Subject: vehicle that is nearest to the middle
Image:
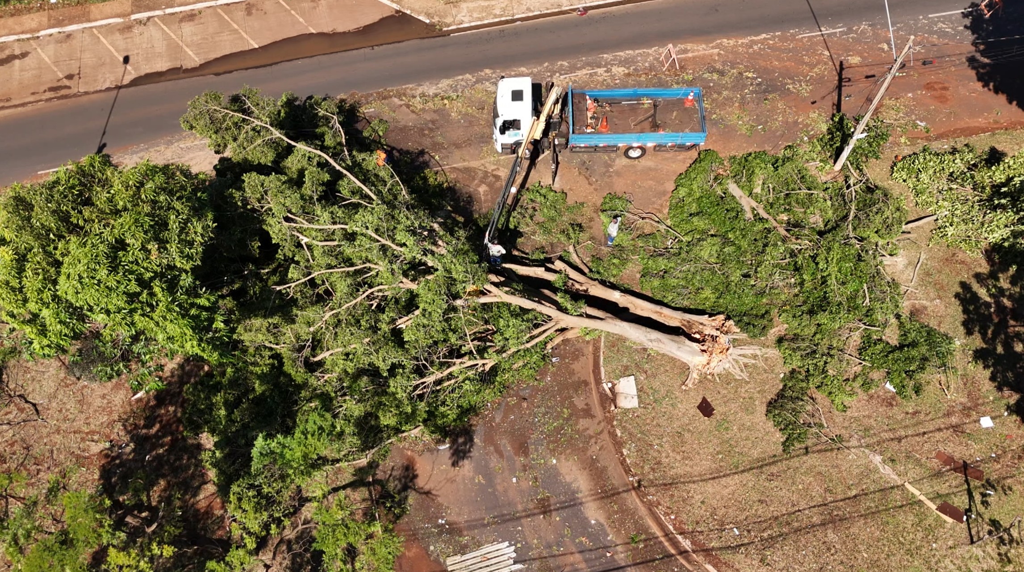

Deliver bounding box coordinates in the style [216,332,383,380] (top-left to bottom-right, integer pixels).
[484,81,709,280]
